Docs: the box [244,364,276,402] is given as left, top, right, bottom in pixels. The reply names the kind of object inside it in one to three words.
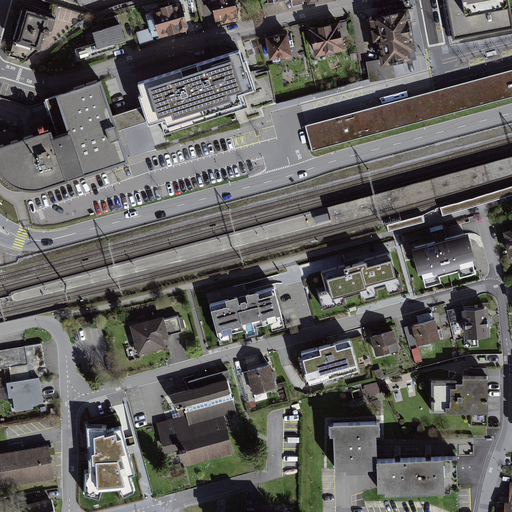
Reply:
house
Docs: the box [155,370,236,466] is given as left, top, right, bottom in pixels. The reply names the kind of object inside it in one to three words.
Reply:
building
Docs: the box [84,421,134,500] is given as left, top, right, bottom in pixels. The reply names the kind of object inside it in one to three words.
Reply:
building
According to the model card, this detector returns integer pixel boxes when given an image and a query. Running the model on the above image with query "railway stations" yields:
[10,156,512,302]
